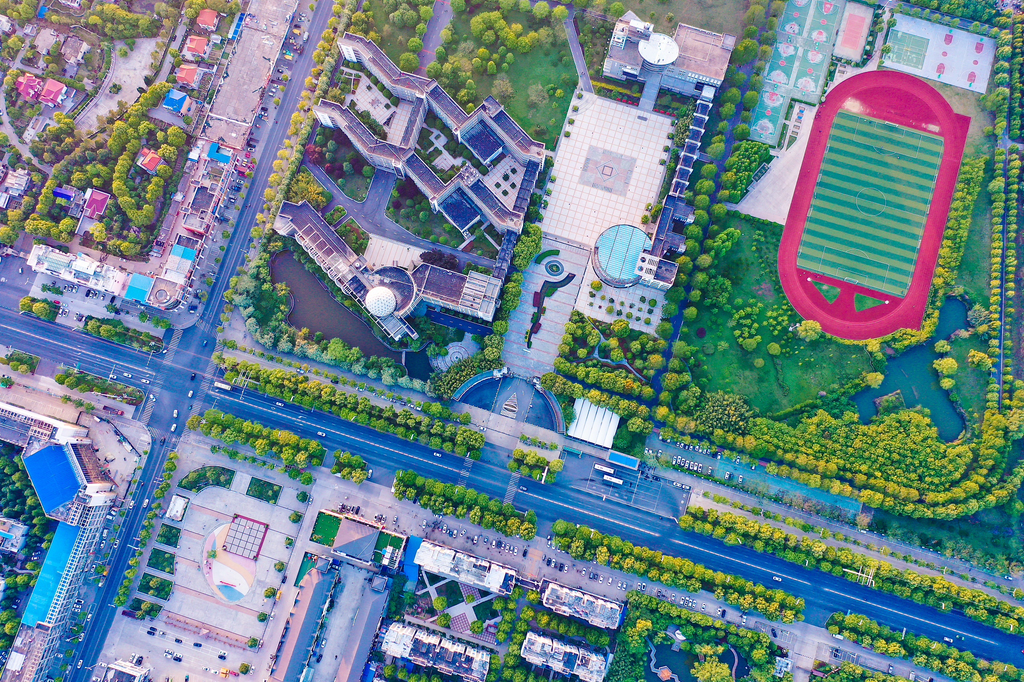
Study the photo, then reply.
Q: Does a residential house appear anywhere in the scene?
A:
Yes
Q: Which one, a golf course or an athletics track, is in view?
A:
athletics track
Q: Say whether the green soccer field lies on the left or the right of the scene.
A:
right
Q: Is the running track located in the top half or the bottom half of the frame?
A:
top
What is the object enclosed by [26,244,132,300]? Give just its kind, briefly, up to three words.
building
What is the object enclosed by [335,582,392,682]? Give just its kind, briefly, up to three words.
shed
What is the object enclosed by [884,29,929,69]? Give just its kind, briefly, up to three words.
tennis court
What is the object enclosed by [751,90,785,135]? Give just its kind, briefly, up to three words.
basketball court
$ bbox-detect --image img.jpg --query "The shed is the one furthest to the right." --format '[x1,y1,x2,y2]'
[772,655,794,678]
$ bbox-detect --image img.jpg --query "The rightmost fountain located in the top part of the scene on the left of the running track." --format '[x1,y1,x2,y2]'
[546,259,564,277]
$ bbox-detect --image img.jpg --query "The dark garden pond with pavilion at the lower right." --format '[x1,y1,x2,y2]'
[644,642,745,682]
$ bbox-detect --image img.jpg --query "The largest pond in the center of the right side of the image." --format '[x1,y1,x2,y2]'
[853,296,975,442]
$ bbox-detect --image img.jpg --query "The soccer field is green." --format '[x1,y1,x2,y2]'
[795,105,946,300]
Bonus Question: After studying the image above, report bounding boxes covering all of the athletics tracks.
[777,71,972,341]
